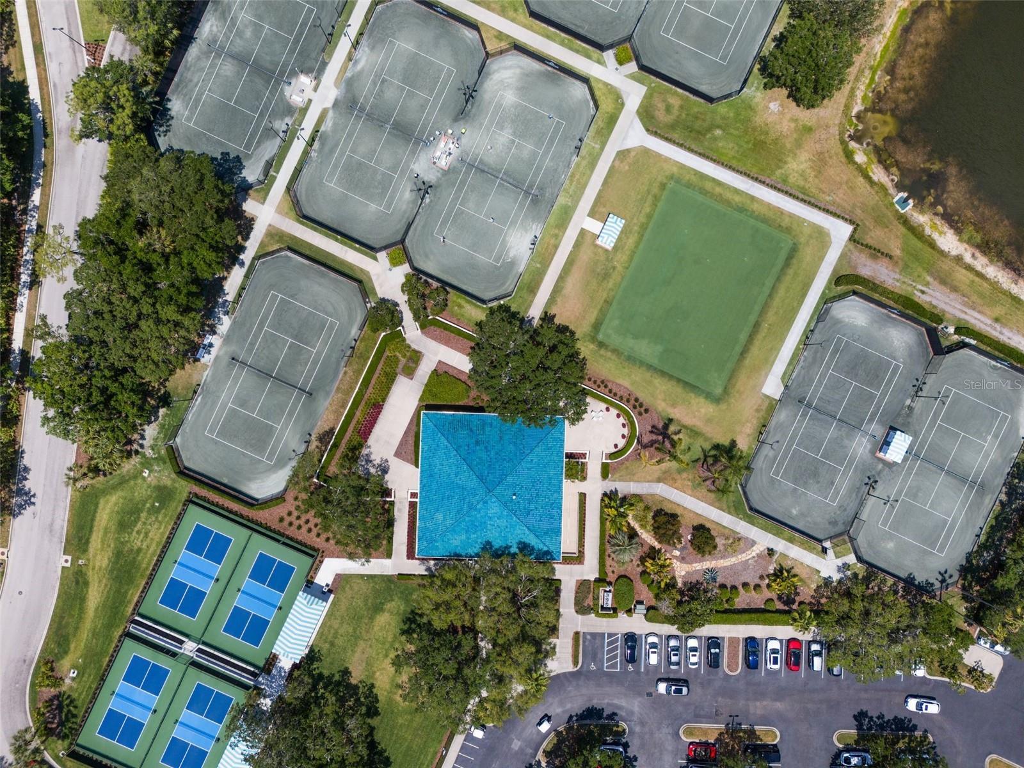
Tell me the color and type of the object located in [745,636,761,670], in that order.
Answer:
blue car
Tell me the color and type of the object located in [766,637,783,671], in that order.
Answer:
white car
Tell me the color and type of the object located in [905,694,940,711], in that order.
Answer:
white car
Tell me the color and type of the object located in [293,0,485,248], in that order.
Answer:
gray tennis court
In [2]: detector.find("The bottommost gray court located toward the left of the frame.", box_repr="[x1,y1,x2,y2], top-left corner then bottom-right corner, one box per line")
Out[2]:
[175,252,368,503]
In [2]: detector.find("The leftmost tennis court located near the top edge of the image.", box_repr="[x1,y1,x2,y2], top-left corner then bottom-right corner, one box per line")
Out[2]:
[154,0,346,190]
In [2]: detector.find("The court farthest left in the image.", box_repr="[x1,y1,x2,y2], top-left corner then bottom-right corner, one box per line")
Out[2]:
[75,638,187,768]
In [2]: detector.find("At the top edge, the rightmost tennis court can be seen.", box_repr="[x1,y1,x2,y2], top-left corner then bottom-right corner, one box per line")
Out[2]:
[629,0,782,103]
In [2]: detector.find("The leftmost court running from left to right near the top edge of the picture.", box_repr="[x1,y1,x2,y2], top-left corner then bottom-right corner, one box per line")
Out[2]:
[524,0,648,46]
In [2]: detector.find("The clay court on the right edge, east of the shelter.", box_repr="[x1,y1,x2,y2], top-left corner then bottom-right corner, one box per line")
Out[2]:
[847,347,1024,593]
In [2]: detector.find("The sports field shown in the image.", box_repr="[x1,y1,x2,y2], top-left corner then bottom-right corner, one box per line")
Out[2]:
[596,178,796,402]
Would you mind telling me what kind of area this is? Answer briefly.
sports ground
